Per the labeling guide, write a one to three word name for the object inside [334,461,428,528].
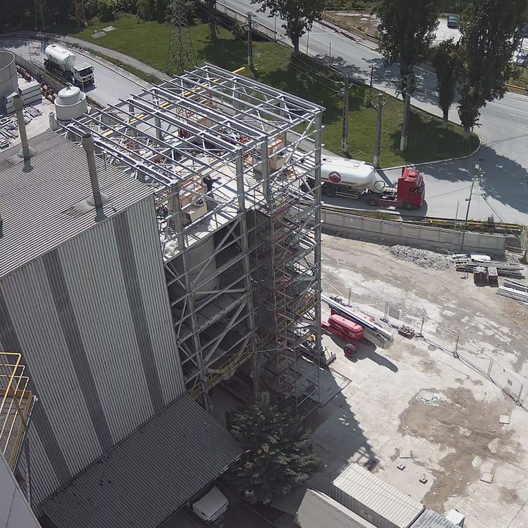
shipping container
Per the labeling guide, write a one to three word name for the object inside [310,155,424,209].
truck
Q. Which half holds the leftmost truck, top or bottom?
top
